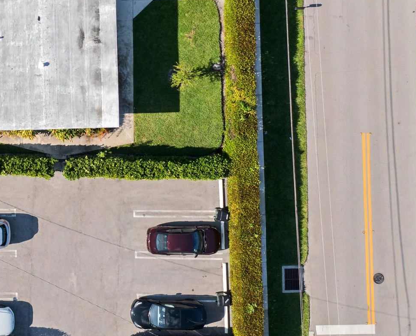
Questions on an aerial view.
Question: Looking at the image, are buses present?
No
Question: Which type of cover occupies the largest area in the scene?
paved ground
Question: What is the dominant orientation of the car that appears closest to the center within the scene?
from left to right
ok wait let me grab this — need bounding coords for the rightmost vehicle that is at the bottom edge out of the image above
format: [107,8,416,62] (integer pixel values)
[129,295,207,333]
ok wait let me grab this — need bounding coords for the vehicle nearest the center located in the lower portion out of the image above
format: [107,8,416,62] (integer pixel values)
[145,223,221,259]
